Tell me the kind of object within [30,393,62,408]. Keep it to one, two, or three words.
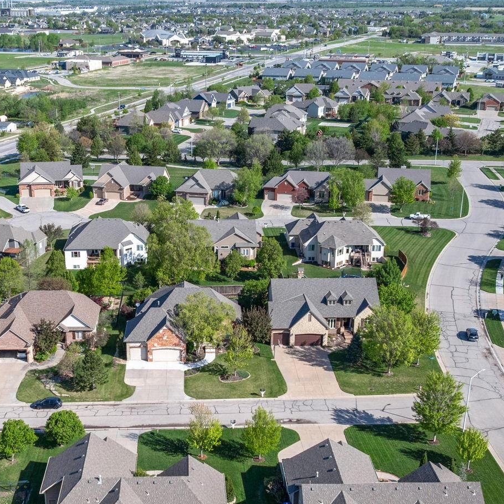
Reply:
car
